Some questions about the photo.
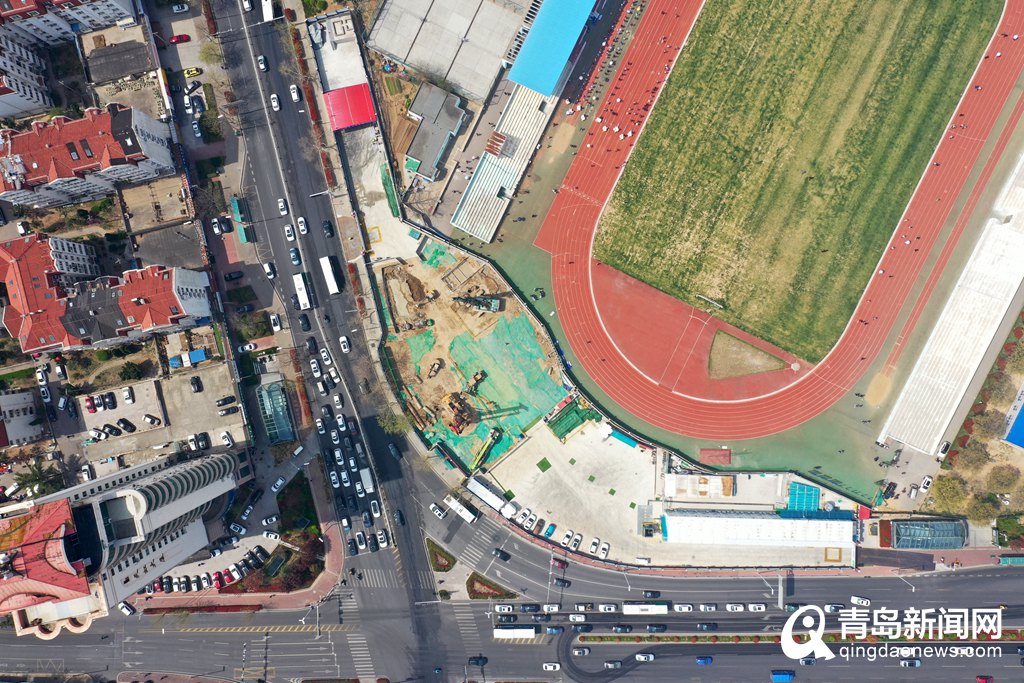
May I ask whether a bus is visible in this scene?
Yes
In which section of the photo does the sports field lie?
top right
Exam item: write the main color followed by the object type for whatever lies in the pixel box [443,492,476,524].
white bus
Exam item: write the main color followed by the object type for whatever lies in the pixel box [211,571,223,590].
red vehicle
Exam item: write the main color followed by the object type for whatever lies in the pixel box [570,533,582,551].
white vehicle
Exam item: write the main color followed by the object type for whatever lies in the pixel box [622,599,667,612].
white vehicle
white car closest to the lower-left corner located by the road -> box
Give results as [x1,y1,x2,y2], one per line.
[117,601,135,617]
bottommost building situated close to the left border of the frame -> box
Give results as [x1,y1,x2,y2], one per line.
[0,444,262,638]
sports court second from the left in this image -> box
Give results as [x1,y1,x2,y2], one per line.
[407,0,481,81]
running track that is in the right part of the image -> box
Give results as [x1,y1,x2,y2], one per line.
[533,0,1024,440]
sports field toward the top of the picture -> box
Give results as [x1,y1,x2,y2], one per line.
[592,0,1004,366]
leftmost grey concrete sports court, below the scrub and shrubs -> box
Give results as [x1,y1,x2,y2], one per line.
[368,0,431,60]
